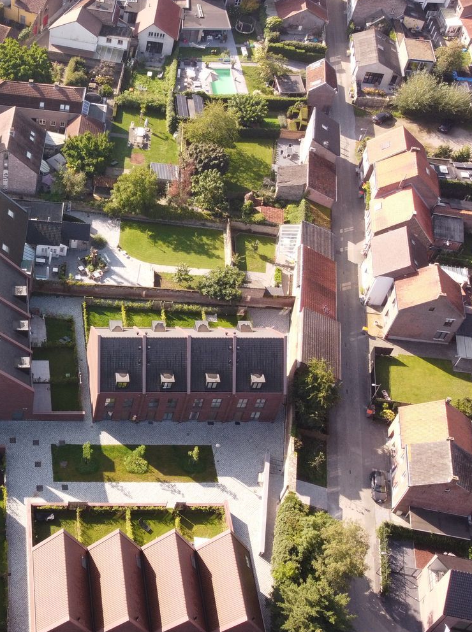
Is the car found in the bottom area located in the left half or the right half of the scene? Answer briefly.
right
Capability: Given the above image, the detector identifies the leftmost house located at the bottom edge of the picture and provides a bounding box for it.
[29,527,94,632]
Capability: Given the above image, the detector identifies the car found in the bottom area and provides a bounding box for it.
[368,468,390,505]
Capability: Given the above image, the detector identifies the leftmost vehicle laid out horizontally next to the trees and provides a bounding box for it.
[368,111,396,127]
